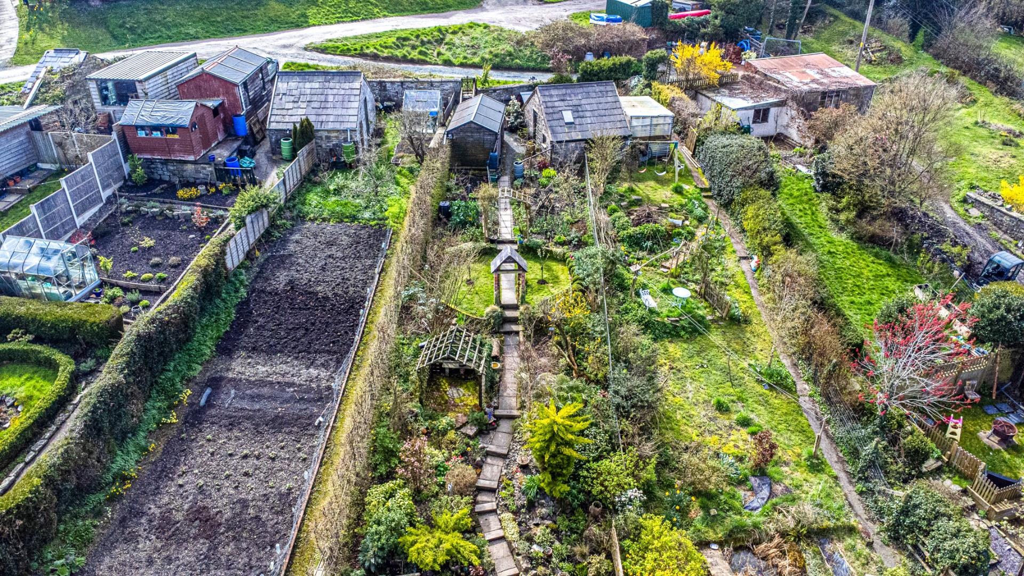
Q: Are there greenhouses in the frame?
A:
Yes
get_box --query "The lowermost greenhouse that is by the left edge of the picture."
[0,233,102,310]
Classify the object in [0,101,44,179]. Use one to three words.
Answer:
shed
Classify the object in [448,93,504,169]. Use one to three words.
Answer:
shed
